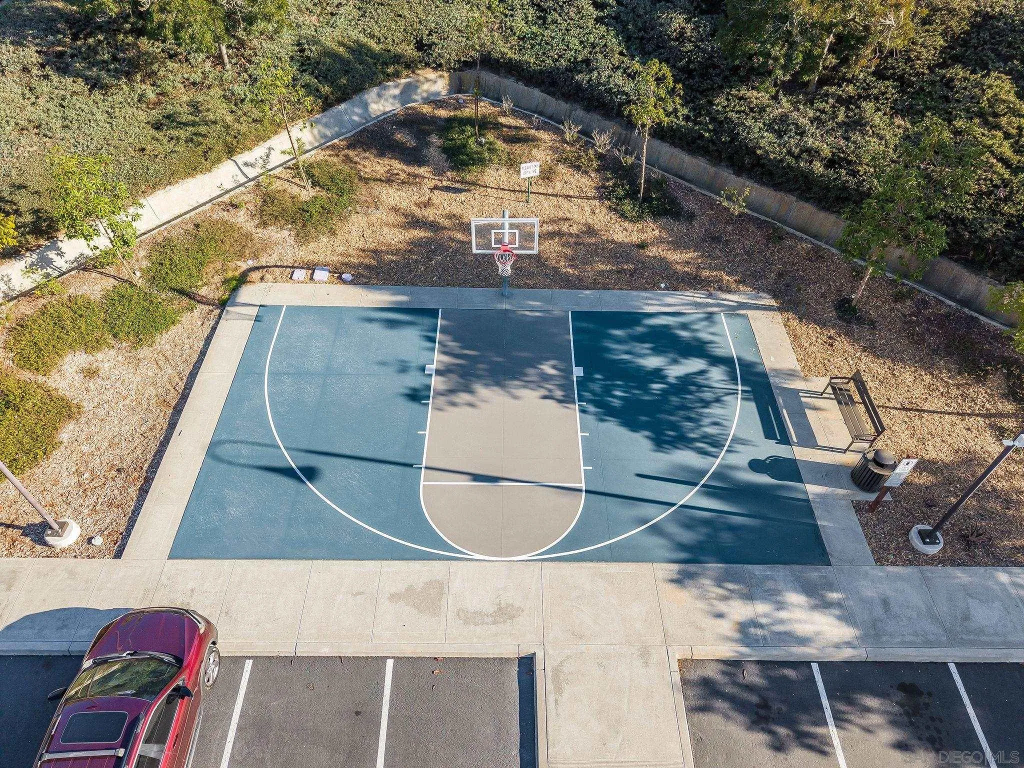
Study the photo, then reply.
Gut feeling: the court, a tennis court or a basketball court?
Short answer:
basketball court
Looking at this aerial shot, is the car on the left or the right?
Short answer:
left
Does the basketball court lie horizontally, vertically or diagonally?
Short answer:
horizontally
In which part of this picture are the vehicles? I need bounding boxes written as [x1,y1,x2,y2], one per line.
[36,605,219,768]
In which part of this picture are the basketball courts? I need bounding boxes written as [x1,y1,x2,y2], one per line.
[169,306,830,566]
